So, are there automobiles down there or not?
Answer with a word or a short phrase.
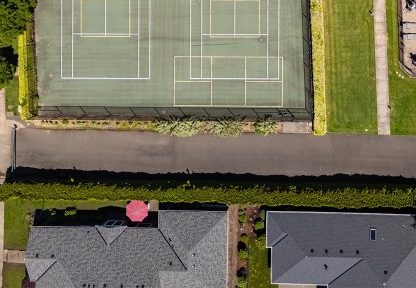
No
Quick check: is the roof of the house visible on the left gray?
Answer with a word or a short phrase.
Yes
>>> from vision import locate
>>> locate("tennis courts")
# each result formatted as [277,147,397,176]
[168,0,311,116]
[34,0,169,116]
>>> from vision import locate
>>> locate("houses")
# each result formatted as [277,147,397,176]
[266,206,416,288]
[23,205,229,288]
